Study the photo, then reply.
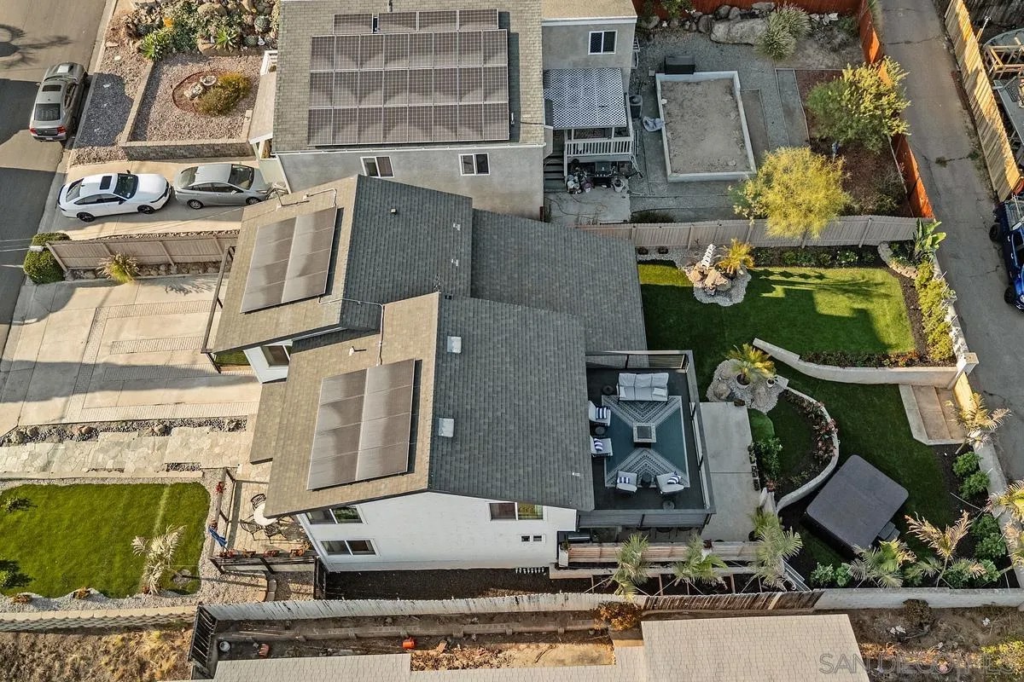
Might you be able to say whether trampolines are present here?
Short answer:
No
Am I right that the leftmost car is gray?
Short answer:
Yes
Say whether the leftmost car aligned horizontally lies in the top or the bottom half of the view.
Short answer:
top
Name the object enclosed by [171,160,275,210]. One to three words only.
car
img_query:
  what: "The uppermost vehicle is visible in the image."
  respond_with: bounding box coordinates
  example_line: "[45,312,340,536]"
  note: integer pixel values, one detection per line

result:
[29,72,90,152]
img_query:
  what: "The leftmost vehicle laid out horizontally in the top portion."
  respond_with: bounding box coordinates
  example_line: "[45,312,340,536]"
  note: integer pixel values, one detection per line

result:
[58,169,171,223]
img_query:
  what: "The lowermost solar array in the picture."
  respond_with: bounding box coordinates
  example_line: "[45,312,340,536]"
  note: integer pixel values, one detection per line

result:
[309,359,416,489]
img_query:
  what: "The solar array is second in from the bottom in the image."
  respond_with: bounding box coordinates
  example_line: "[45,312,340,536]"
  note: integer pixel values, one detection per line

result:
[249,206,339,311]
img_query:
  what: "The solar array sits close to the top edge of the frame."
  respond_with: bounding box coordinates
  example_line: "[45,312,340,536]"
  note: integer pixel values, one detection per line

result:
[306,12,508,143]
